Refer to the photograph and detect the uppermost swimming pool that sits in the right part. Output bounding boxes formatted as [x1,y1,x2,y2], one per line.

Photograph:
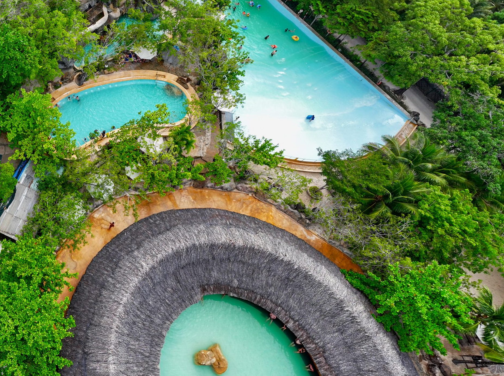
[216,0,414,170]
